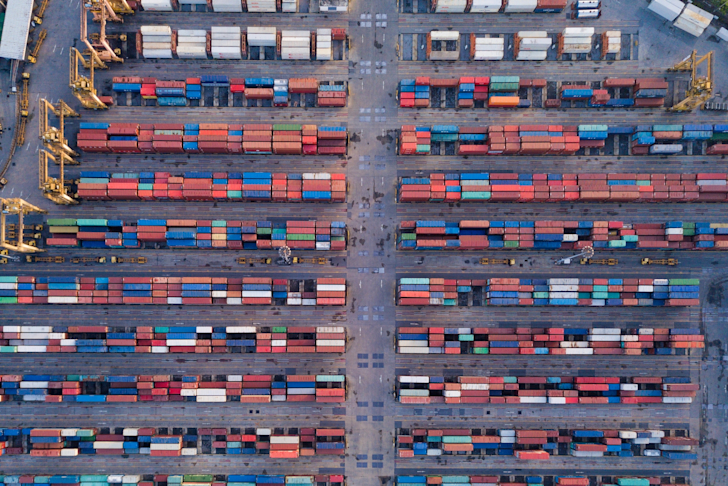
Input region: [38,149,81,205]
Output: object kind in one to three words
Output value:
container crane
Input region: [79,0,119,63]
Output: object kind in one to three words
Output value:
container crane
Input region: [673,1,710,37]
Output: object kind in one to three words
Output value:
shed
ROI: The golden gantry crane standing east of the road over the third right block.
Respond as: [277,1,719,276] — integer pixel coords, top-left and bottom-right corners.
[667,50,719,112]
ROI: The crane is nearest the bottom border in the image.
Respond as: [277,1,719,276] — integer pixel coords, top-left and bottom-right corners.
[0,200,41,253]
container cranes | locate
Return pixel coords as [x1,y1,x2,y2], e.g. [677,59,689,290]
[69,48,109,110]
[79,0,119,63]
[667,50,719,112]
[38,149,81,205]
[0,200,41,253]
[38,99,81,158]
